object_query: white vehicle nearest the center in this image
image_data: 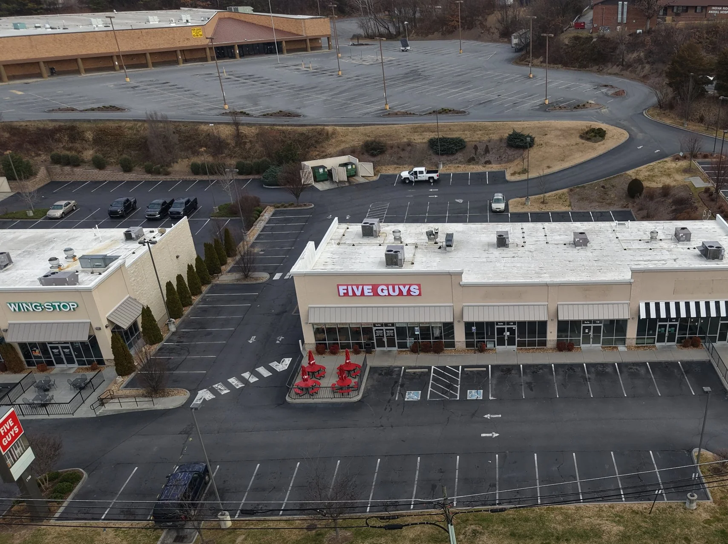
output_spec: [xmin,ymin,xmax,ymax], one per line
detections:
[400,167,440,182]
